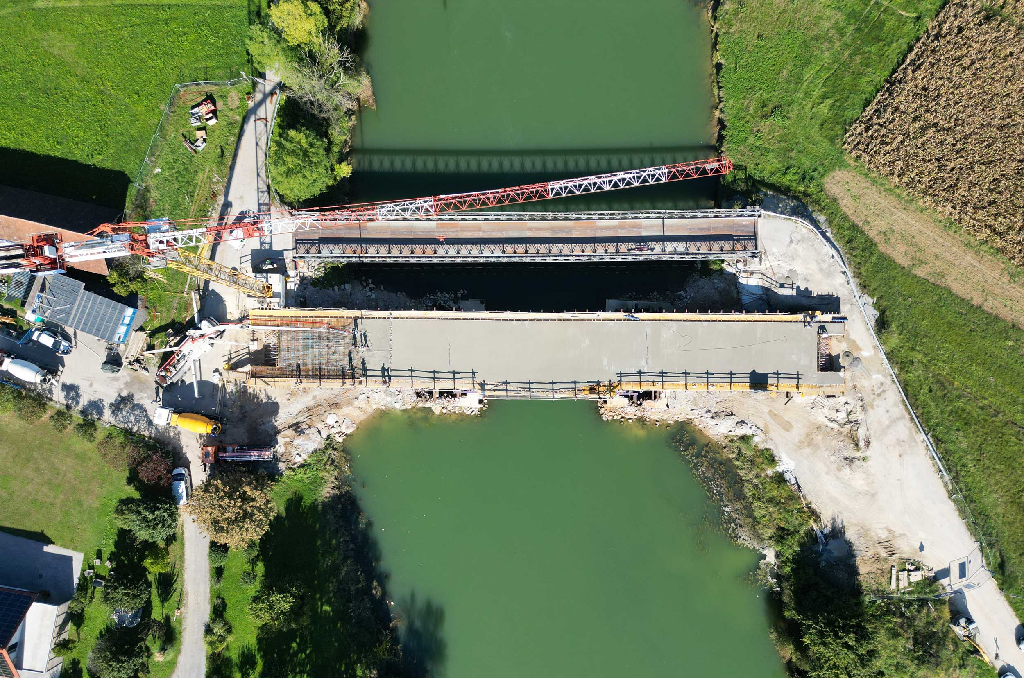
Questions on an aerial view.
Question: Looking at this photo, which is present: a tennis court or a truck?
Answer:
truck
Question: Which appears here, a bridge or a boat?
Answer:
bridge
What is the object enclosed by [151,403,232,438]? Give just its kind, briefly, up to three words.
truck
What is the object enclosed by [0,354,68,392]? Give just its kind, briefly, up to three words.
truck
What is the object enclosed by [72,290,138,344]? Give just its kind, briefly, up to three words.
shed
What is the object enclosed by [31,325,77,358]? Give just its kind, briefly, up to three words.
car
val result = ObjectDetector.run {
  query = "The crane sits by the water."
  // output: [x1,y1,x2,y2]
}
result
[0,155,739,309]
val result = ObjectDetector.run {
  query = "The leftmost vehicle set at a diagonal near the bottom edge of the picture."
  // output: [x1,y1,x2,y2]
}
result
[948,608,993,664]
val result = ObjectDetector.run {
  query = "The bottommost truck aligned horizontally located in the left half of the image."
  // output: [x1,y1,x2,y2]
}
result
[200,435,277,469]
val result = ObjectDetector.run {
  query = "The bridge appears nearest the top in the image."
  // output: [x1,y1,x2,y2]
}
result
[291,209,766,265]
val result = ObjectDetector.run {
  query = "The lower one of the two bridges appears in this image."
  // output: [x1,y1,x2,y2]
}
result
[225,299,845,411]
